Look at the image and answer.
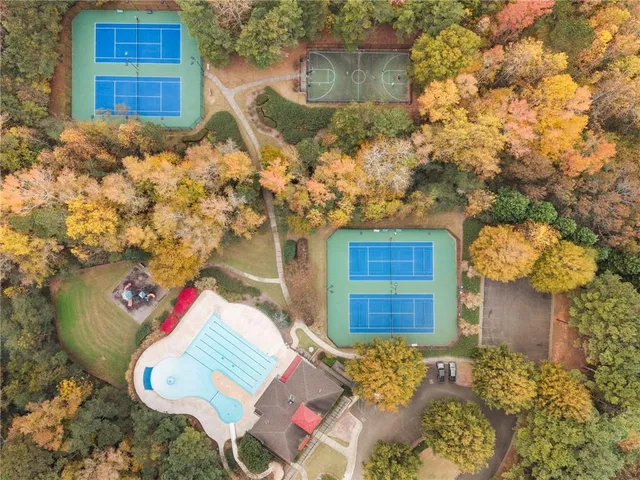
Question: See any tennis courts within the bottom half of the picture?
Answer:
Yes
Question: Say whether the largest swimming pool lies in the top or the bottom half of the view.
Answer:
bottom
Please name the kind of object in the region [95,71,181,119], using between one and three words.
tennis court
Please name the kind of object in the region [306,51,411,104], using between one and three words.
basketball court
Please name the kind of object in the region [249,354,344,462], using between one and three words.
building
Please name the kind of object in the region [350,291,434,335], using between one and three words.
tennis court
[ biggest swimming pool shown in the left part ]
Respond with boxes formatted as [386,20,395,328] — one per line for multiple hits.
[142,309,282,422]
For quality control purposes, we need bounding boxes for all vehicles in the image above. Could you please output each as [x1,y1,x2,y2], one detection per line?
[448,361,457,382]
[436,361,445,382]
